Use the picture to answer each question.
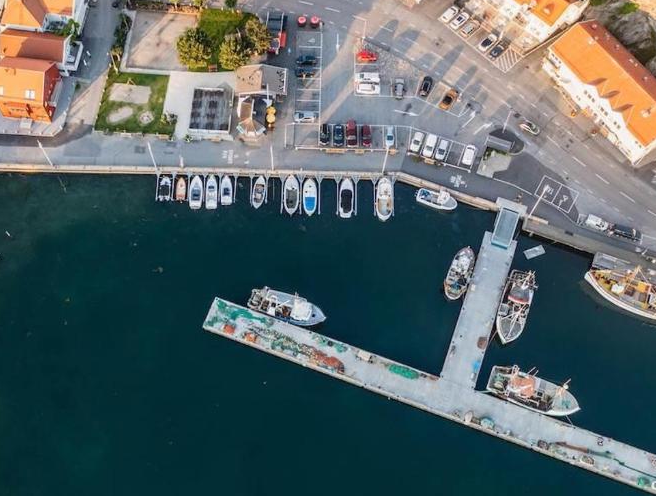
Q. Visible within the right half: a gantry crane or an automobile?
automobile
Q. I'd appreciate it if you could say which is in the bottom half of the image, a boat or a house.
boat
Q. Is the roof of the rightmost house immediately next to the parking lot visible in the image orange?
Yes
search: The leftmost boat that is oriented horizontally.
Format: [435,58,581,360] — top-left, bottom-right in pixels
[246,289,327,324]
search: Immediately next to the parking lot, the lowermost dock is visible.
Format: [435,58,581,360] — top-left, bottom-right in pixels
[201,231,656,496]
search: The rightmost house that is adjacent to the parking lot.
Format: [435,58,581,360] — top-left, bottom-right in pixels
[542,22,656,164]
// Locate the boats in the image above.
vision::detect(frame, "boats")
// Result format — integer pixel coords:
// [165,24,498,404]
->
[443,245,475,304]
[205,174,217,209]
[338,178,354,218]
[496,265,538,346]
[582,269,656,315]
[176,175,186,202]
[252,175,265,209]
[376,180,394,222]
[189,174,203,210]
[302,177,317,216]
[283,176,299,216]
[158,172,170,203]
[246,289,327,324]
[413,188,458,208]
[487,368,582,415]
[221,175,232,205]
